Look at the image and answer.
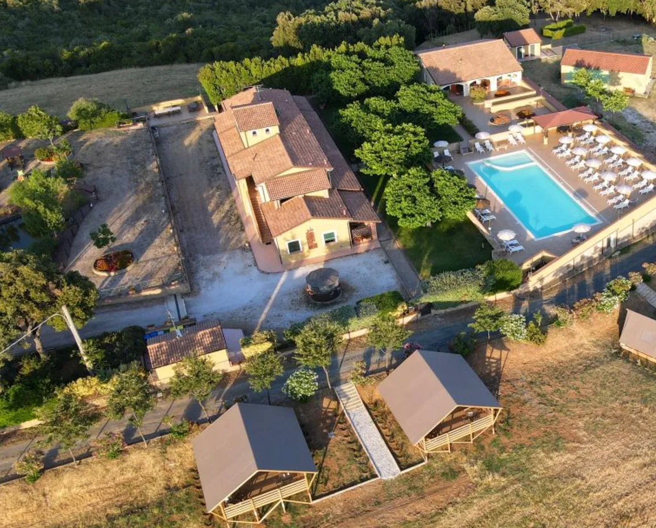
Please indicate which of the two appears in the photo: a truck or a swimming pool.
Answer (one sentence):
The one in the frame is a swimming pool.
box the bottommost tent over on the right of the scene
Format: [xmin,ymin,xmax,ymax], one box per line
[382,345,511,464]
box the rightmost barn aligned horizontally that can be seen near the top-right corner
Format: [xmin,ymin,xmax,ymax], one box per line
[560,47,653,99]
